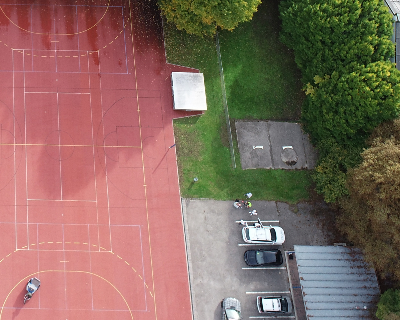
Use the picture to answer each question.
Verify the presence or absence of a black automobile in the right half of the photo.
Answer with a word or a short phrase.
Yes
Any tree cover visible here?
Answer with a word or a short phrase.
Yes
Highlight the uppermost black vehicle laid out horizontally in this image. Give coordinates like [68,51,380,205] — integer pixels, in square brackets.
[246,248,286,268]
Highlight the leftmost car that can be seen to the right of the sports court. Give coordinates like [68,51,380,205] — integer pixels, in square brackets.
[222,298,244,320]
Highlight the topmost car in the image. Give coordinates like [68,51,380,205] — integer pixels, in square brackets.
[243,218,287,246]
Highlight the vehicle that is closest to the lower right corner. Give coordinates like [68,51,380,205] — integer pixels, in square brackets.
[258,295,296,317]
